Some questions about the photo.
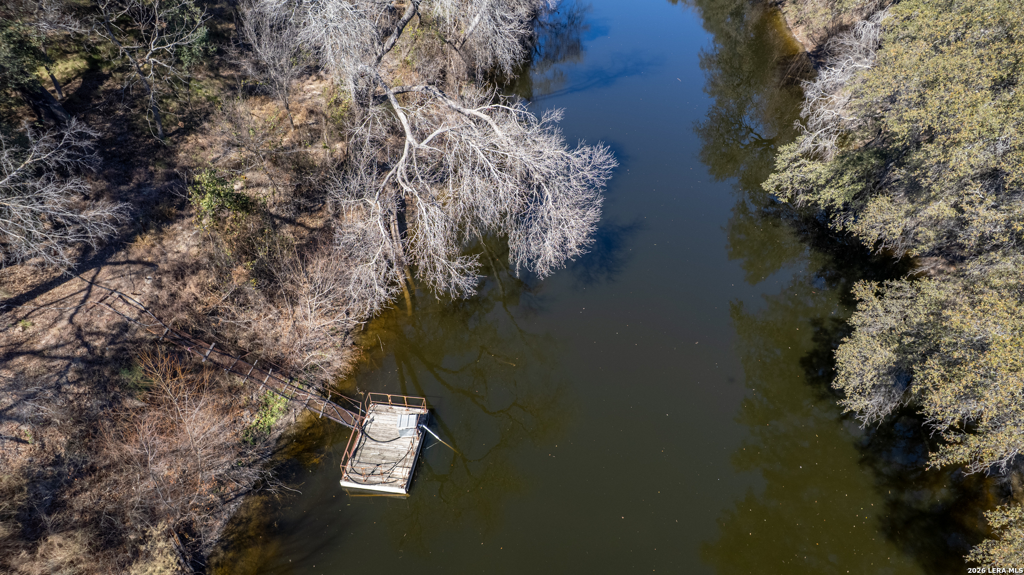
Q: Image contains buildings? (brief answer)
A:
No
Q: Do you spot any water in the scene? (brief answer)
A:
Yes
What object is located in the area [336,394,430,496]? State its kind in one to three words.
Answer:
pier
